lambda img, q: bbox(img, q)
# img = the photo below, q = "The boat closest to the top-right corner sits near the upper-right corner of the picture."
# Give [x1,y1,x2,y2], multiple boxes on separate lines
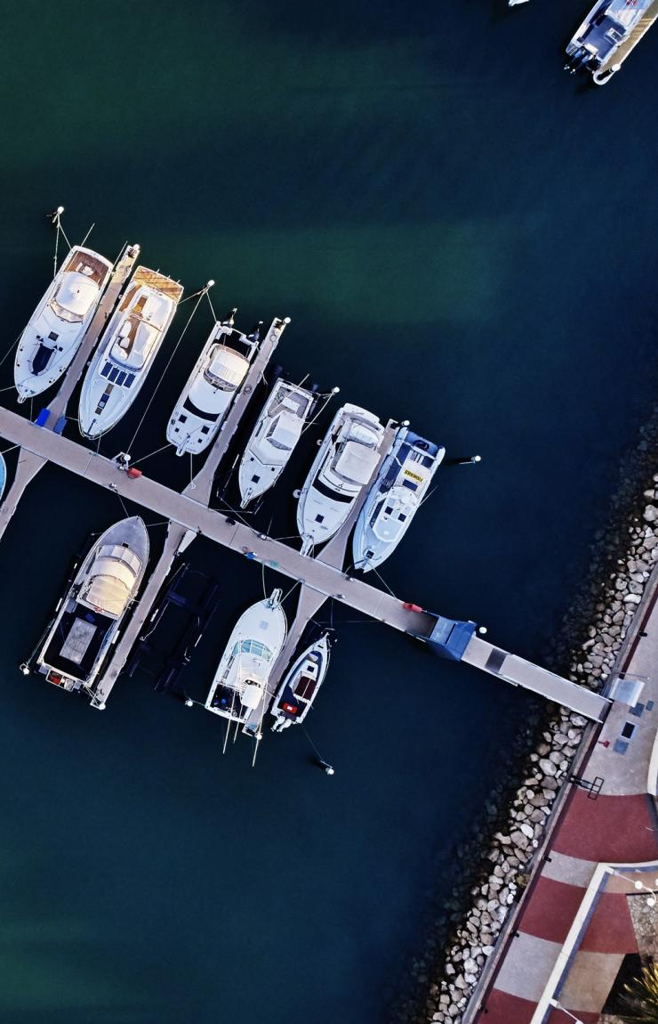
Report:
[562,0,655,73]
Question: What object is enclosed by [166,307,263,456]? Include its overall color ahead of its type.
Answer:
white boat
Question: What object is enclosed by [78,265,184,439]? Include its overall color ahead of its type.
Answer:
white boat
